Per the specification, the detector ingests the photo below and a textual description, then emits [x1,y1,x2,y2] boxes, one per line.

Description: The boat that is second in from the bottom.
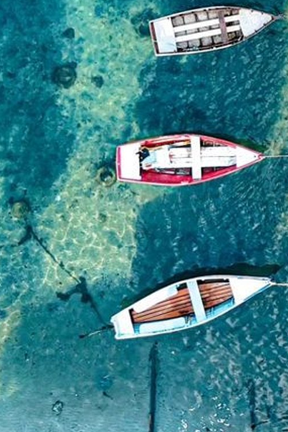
[114,134,267,187]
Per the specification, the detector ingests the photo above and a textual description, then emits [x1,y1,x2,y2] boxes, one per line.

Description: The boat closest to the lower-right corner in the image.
[109,277,273,339]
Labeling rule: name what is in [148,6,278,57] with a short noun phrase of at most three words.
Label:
boat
